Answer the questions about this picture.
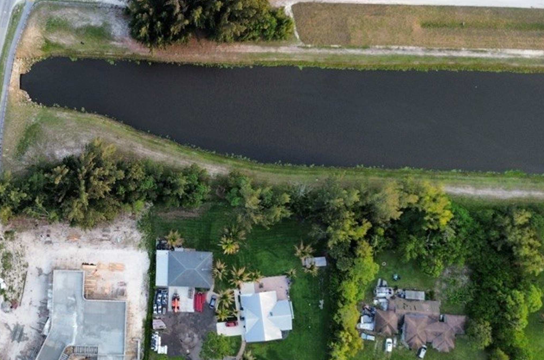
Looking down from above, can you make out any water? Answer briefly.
Yes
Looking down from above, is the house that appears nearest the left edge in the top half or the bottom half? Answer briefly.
bottom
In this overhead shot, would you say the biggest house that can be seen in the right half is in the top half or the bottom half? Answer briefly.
bottom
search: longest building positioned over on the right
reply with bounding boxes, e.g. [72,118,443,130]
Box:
[372,298,466,352]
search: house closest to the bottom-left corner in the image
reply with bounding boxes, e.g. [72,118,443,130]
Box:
[36,270,126,360]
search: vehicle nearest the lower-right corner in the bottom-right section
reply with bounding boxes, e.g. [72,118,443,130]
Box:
[415,347,427,360]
